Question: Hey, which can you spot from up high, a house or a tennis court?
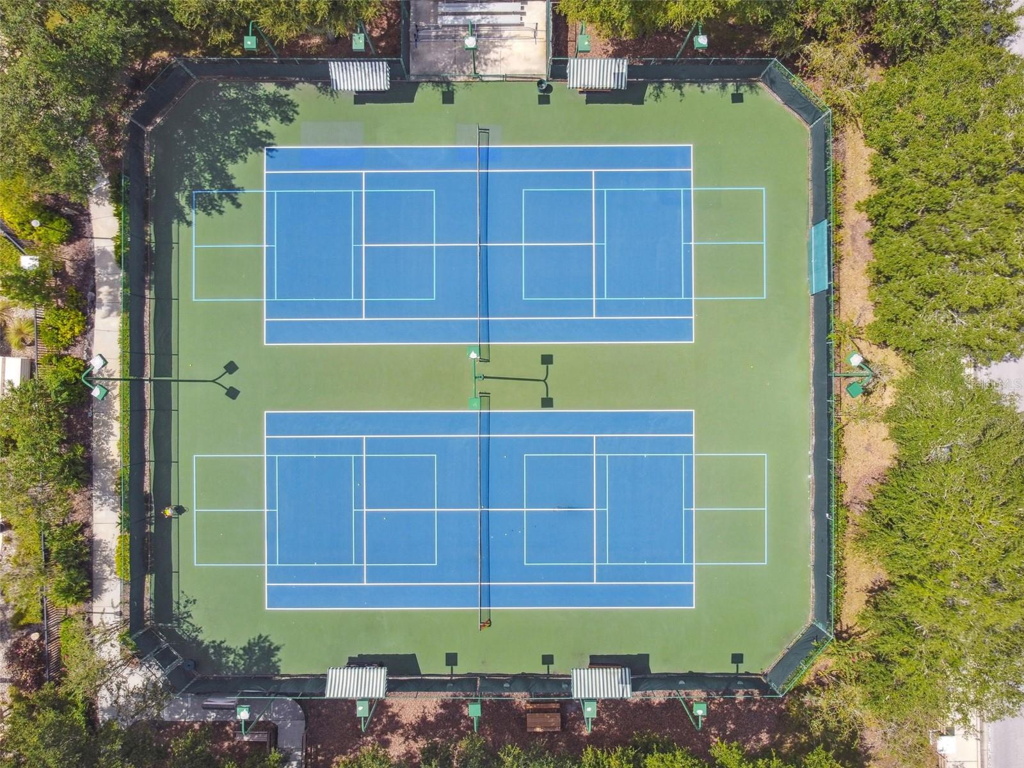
tennis court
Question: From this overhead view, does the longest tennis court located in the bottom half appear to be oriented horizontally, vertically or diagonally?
horizontally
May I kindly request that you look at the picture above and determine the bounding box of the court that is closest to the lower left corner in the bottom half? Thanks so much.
[194,455,436,566]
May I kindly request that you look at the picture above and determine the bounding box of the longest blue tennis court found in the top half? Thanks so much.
[264,145,693,345]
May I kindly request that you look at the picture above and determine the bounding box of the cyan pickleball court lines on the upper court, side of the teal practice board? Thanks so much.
[523,187,765,299]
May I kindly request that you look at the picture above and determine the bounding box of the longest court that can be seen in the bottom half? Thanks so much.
[265,410,695,610]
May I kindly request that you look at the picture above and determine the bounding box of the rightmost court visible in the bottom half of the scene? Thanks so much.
[524,453,767,565]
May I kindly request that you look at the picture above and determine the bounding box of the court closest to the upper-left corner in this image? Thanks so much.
[193,189,435,301]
